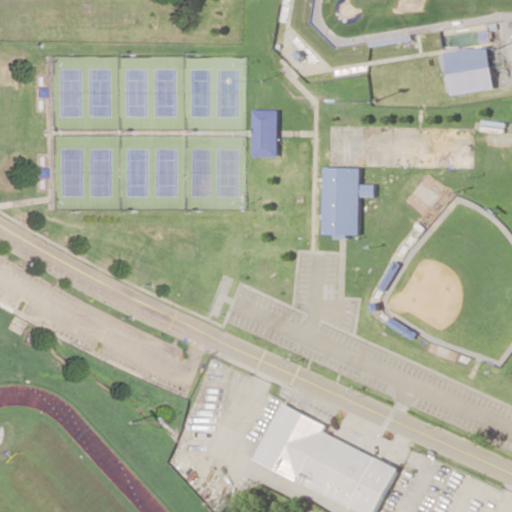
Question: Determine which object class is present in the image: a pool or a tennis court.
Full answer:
This aerial view contains a tennis court.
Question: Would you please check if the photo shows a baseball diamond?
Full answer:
Yes, there's a baseball diamond here.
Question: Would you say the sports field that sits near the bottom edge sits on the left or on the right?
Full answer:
The sports field that sits near the bottom edge appears in the left half of the scene.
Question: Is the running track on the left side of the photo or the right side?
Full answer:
It is on the left.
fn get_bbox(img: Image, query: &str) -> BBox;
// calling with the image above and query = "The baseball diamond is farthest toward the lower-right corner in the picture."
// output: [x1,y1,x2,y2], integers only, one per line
[384,197,512,364]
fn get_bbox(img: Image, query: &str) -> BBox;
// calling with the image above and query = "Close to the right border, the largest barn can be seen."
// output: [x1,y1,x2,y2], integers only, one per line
[442,48,494,96]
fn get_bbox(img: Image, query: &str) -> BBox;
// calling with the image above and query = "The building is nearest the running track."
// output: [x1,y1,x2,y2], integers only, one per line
[256,404,398,512]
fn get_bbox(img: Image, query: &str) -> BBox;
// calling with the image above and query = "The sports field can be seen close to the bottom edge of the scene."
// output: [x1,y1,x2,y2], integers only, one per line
[0,405,138,512]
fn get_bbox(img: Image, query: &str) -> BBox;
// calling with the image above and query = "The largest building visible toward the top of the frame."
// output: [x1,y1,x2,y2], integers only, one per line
[318,167,374,240]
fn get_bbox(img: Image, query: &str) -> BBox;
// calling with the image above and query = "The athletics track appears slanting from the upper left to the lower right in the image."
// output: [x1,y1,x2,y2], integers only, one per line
[0,384,167,512]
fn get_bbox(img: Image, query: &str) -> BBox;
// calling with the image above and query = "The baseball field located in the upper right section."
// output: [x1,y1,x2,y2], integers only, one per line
[311,0,512,48]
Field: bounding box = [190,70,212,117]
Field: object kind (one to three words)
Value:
tennis court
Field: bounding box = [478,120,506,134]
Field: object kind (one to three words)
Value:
shed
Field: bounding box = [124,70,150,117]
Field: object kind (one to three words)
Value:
tennis court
